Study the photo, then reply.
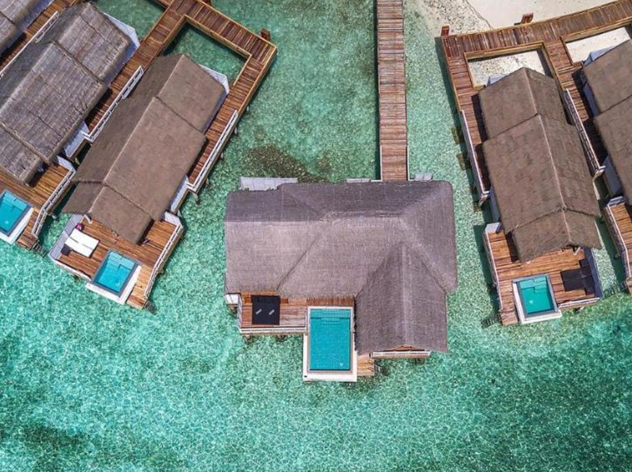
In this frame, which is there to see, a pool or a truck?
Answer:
pool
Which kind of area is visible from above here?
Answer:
residential area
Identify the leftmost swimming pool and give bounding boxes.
[0,189,37,246]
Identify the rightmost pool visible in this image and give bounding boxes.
[510,275,562,326]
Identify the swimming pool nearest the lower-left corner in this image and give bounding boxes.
[86,249,145,307]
